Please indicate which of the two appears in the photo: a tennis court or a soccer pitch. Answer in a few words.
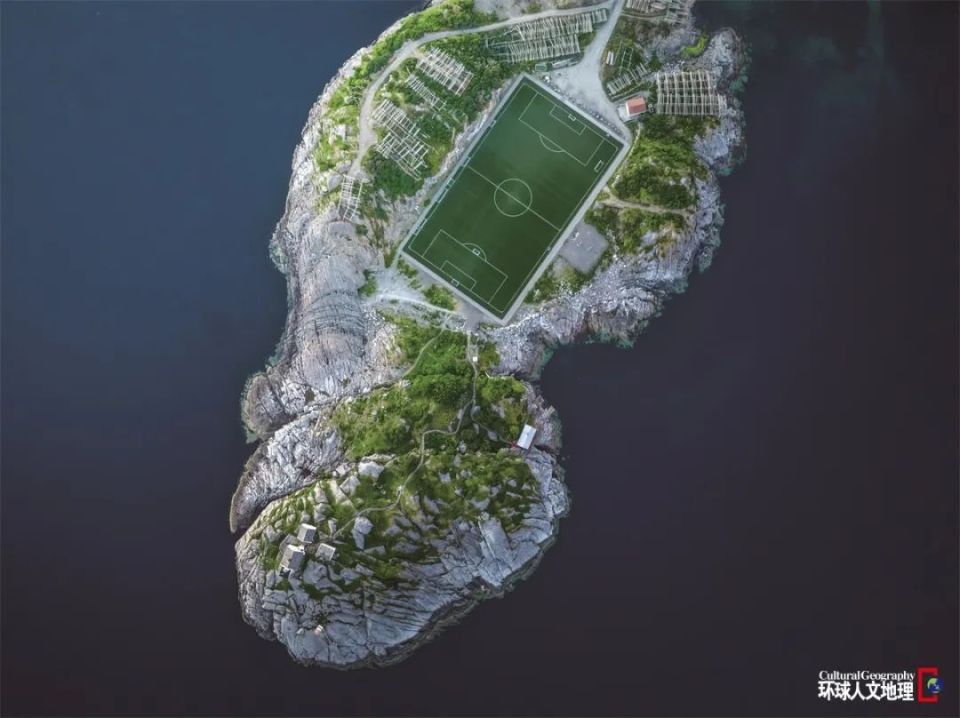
soccer pitch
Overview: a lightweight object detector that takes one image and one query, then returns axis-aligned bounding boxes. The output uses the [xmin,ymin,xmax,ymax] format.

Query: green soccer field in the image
[398,71,631,326]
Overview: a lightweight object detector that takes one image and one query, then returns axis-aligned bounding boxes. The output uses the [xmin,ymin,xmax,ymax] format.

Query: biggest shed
[280,545,306,572]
